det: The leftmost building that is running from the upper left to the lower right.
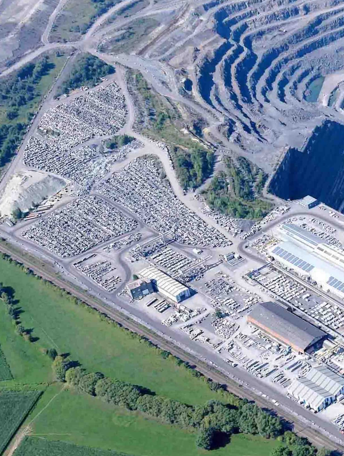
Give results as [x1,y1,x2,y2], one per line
[140,266,190,302]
